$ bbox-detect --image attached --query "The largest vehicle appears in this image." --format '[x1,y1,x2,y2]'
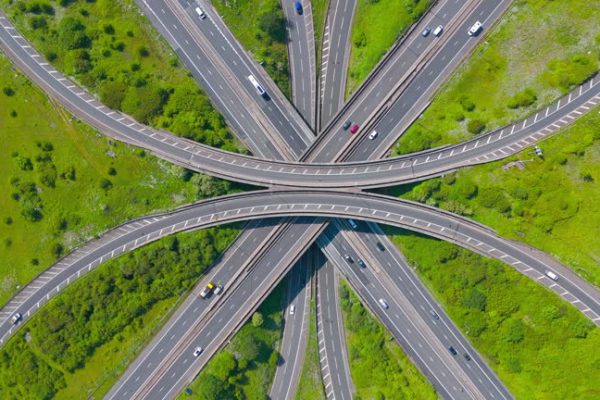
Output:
[247,73,268,97]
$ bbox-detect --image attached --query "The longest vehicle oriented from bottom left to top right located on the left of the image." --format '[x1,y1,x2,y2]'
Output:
[197,281,214,298]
